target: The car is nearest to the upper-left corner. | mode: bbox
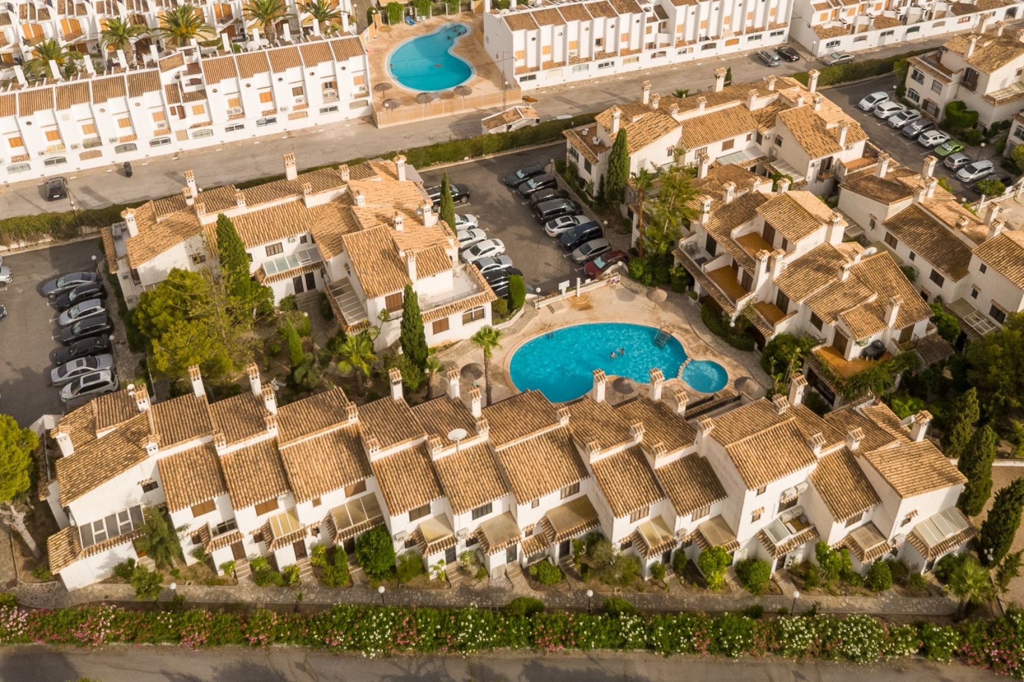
[46,175,68,204]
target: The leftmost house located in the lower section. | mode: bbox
[35,383,171,593]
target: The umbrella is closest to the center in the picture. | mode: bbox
[459,366,484,386]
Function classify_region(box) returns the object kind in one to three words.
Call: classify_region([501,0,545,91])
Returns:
house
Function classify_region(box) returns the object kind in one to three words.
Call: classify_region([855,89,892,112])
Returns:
car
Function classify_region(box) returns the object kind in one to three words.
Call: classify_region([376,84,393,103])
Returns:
umbrella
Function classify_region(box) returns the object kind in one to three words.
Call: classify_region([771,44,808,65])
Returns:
car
